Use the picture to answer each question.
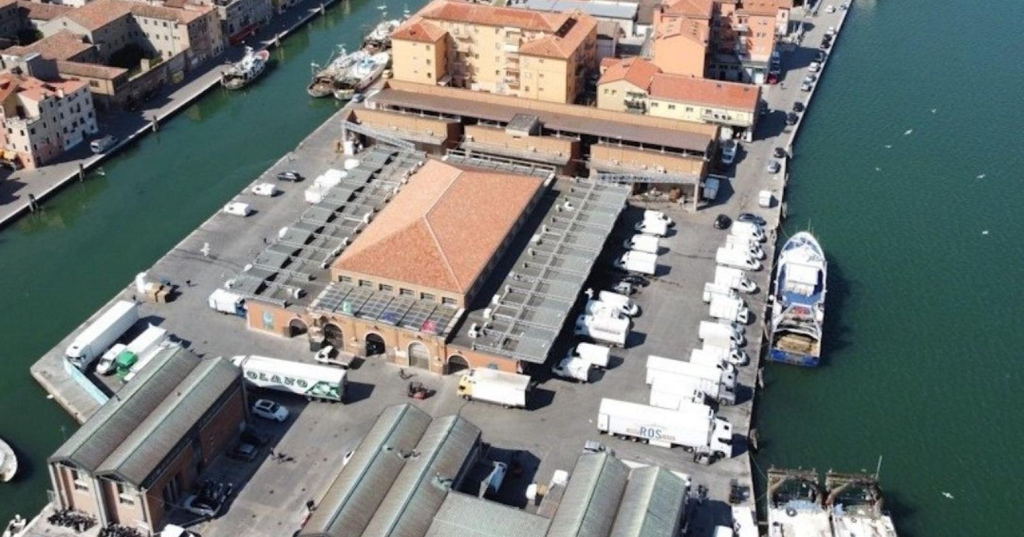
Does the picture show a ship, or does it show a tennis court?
ship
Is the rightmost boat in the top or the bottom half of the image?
bottom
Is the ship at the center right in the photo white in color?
Yes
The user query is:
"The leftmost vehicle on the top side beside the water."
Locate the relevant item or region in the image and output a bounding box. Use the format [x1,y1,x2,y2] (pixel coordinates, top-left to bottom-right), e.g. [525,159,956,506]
[90,130,121,153]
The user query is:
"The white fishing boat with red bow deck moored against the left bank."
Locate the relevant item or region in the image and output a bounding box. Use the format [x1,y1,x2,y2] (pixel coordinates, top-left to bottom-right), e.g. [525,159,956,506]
[229,39,274,95]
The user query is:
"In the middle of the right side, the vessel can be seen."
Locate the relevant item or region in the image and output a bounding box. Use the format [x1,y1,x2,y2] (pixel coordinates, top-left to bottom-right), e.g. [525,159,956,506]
[769,230,823,372]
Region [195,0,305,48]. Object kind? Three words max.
building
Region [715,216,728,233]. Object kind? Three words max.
vehicle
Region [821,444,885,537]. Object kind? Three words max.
boat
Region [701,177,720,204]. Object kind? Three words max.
vehicle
